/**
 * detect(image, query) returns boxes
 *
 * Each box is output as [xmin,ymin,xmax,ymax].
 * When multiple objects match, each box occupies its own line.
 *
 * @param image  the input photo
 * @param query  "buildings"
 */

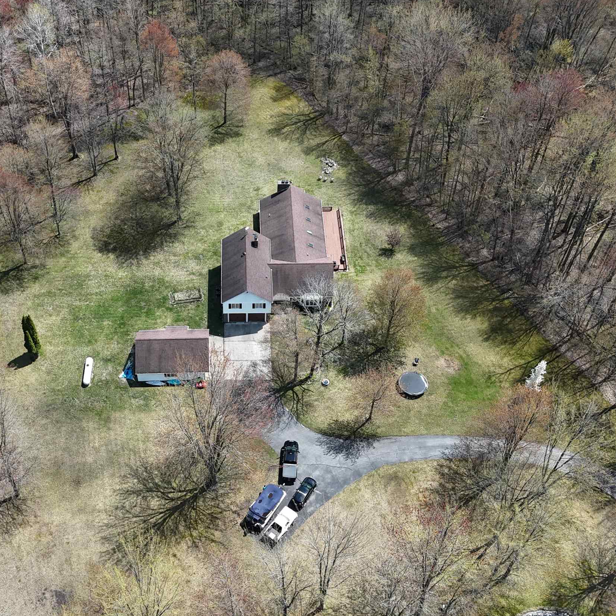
[220,178,333,322]
[135,327,210,380]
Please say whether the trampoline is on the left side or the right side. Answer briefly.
right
